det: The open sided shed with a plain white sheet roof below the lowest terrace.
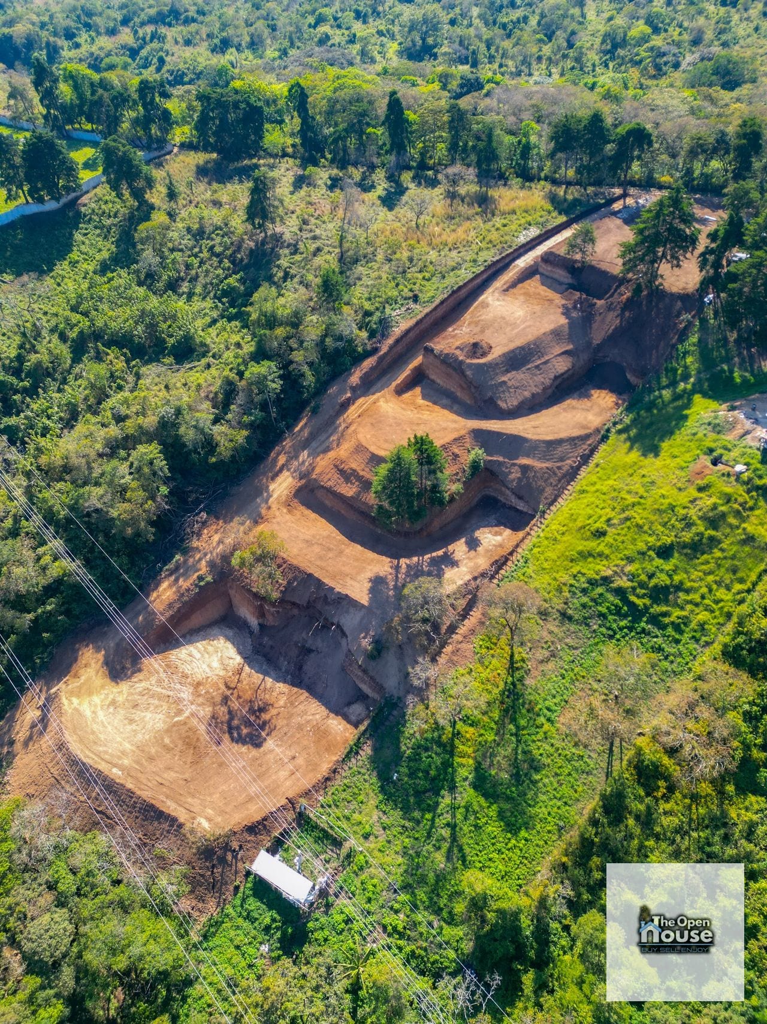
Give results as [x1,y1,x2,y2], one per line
[245,850,313,923]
